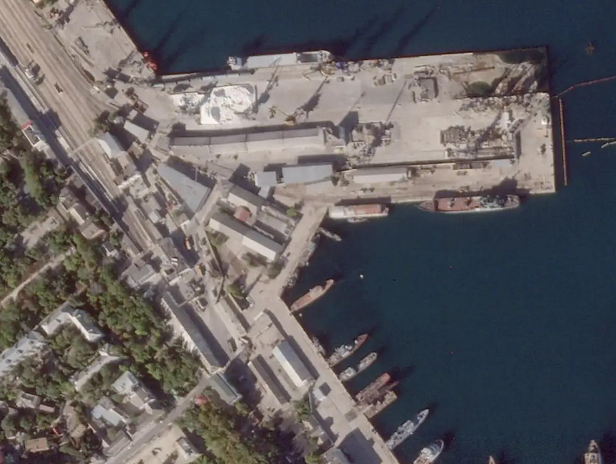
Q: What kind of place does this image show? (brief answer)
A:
port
